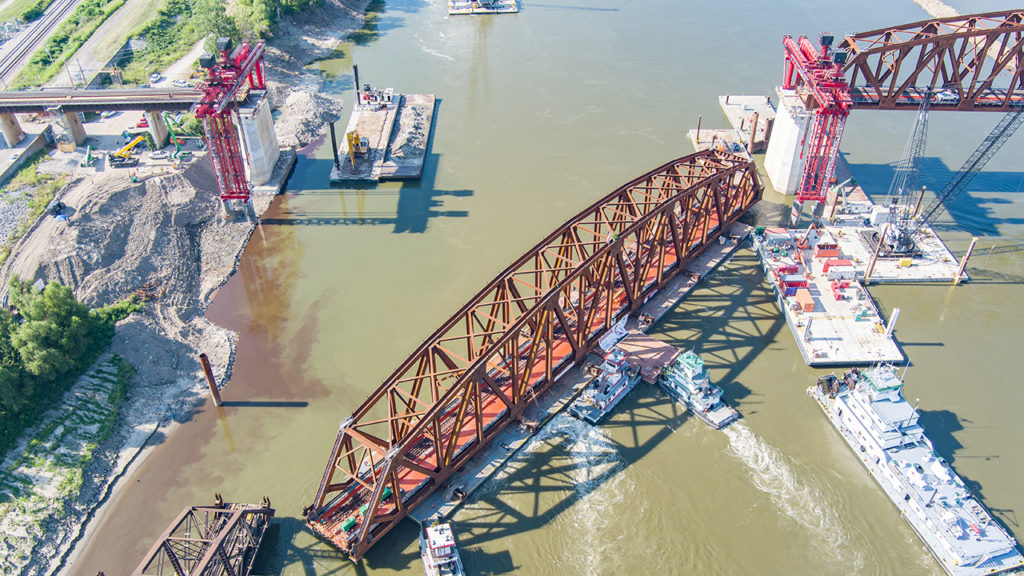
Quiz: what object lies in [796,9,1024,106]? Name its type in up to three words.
bridge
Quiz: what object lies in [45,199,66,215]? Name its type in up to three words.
vehicle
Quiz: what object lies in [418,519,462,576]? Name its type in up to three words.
boat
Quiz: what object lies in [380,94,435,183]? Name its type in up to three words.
ship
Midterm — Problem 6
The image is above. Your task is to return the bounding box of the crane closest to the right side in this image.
[854,48,1024,257]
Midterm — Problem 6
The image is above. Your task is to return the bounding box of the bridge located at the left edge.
[0,80,238,150]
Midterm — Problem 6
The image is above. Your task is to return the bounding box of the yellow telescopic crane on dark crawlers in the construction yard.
[100,125,150,167]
